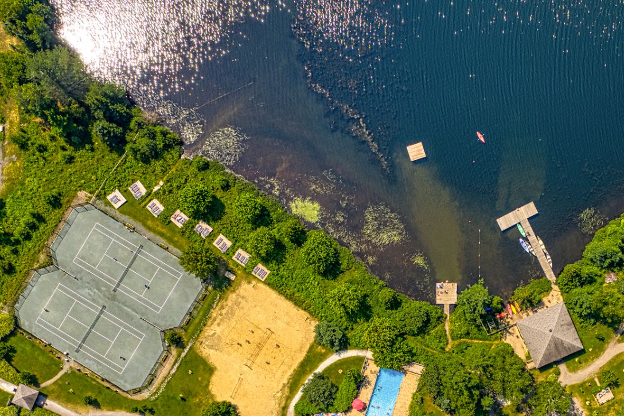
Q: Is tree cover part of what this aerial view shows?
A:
Yes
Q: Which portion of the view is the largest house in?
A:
bottom right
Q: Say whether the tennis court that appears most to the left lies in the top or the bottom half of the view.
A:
bottom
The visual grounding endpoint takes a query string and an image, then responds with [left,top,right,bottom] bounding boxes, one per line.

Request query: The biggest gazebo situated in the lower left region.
[11,385,43,411]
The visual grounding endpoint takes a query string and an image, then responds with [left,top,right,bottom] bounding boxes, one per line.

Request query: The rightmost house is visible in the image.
[516,302,584,369]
